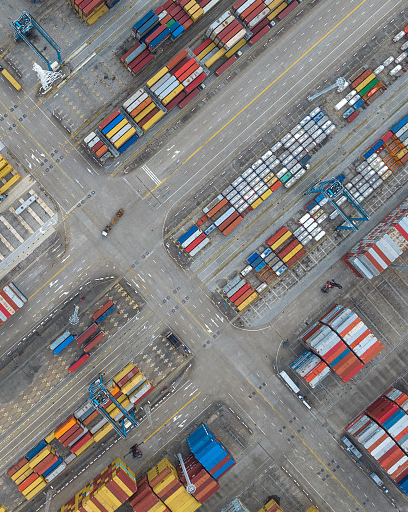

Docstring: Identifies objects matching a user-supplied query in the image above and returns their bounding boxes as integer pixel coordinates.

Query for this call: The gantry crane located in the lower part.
[87,371,144,443]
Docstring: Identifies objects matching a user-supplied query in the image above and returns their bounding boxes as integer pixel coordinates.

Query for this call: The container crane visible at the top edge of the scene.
[9,7,66,75]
